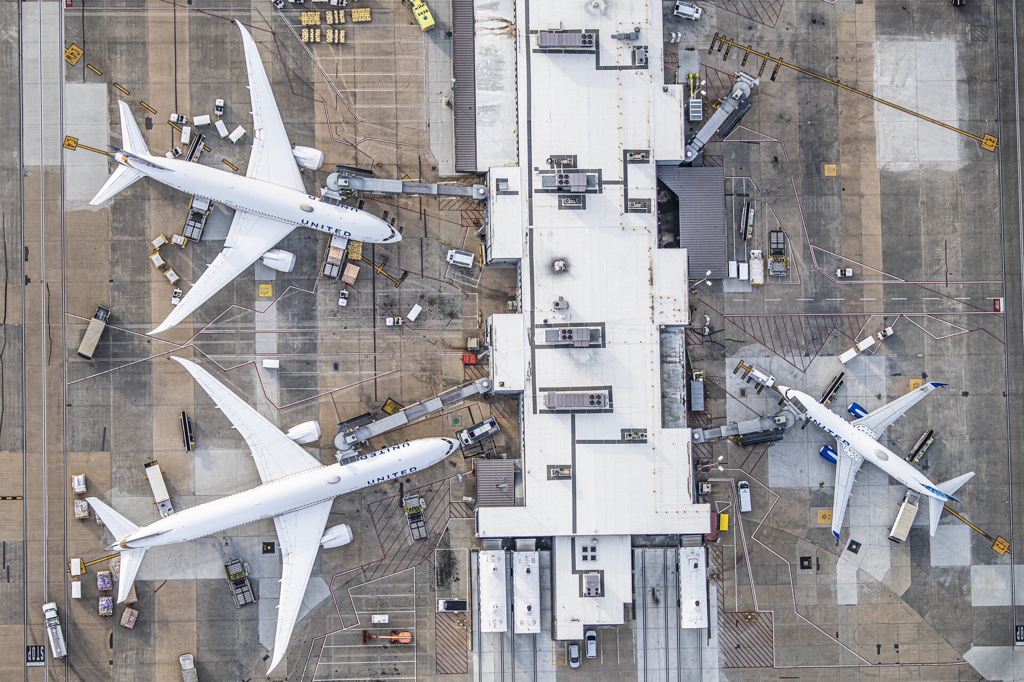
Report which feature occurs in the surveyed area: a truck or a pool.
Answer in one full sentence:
This aerial view contains a truck.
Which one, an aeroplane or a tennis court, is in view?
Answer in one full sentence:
The image shows an aeroplane.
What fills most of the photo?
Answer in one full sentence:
The bulk of the photo consists of paved ground.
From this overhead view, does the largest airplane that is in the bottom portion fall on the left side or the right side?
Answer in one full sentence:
You can find the largest airplane that is in the bottom portion on the left side of the picture.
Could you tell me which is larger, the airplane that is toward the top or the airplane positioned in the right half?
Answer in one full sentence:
The airplane that is toward the top takes up more space than the airplane positioned in the right half.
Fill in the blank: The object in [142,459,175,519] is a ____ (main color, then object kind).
white truck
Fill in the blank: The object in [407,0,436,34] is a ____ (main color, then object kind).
yellow van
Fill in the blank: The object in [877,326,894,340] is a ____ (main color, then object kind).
white work vehicle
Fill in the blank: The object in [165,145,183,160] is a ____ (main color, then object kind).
white work vehicle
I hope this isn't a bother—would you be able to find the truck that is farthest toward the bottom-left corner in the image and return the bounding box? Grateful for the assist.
[42,602,68,659]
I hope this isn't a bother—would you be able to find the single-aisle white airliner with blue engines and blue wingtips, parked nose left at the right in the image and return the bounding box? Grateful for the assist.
[777,382,978,548]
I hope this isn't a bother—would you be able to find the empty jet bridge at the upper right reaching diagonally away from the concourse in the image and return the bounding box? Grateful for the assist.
[680,71,759,165]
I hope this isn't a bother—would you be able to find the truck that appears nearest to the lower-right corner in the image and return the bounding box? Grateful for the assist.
[885,488,917,543]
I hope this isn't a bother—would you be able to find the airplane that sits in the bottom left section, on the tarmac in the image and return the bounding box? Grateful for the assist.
[83,356,462,676]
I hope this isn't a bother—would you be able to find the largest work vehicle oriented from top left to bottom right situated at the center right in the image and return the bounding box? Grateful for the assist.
[746,363,778,389]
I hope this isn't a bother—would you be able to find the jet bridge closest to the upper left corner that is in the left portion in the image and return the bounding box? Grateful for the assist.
[320,165,488,205]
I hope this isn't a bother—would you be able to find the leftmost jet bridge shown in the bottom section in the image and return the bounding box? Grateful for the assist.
[333,375,491,465]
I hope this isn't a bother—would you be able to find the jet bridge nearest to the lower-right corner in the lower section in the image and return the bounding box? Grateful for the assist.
[690,396,807,446]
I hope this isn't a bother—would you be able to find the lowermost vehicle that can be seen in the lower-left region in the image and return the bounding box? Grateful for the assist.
[177,652,197,682]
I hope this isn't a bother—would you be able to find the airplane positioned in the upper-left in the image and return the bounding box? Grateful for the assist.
[87,20,404,337]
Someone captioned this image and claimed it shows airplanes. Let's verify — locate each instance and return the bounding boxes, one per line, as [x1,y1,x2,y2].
[87,20,404,337]
[83,356,462,676]
[777,382,978,548]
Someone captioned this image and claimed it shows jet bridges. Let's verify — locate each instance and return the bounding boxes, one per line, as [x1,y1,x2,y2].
[333,375,491,465]
[680,71,759,165]
[690,396,807,446]
[320,165,488,205]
